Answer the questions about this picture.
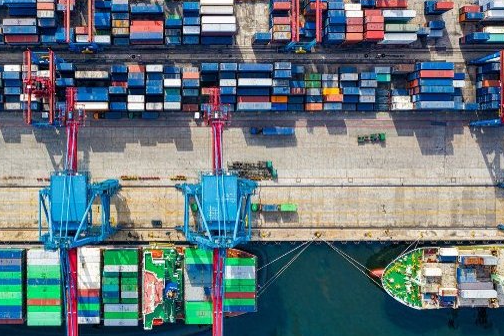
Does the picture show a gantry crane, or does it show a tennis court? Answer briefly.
gantry crane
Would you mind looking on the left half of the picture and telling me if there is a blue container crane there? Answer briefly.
Yes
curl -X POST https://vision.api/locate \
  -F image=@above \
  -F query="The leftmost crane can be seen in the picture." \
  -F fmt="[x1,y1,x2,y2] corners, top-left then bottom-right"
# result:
[24,43,68,128]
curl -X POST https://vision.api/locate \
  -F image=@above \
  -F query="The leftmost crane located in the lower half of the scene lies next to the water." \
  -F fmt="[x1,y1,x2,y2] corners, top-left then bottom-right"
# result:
[38,88,122,336]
